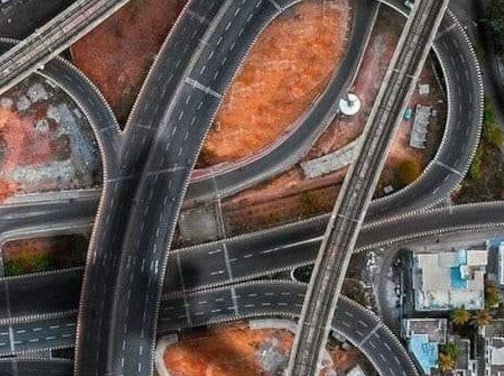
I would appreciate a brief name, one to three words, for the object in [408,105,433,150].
shed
